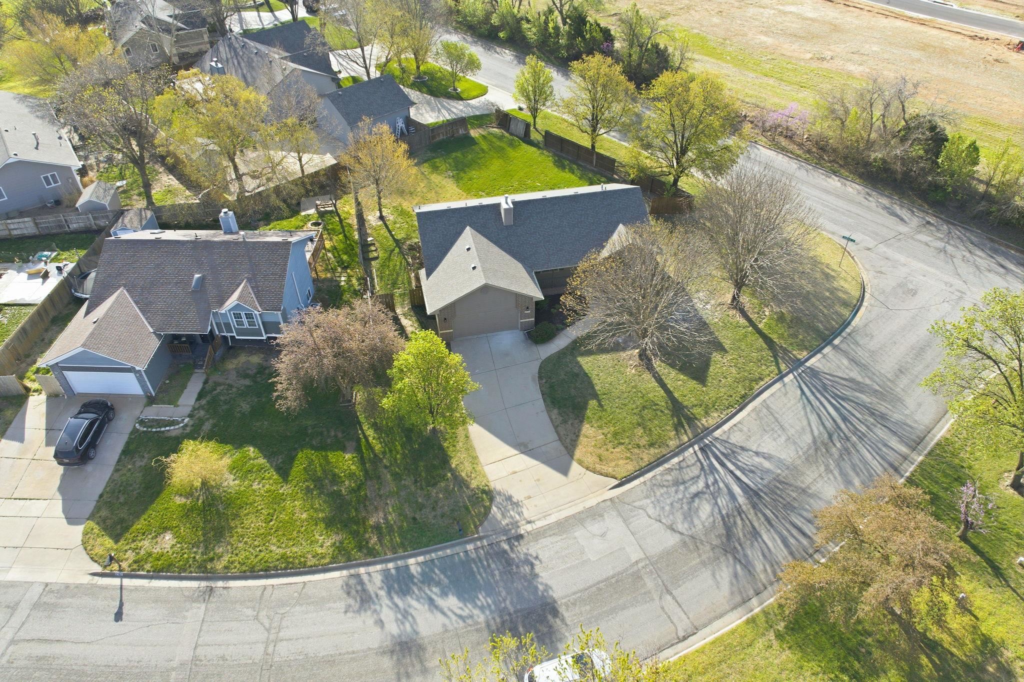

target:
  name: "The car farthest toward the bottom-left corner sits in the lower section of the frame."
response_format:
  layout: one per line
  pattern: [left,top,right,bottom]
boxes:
[56,399,116,460]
